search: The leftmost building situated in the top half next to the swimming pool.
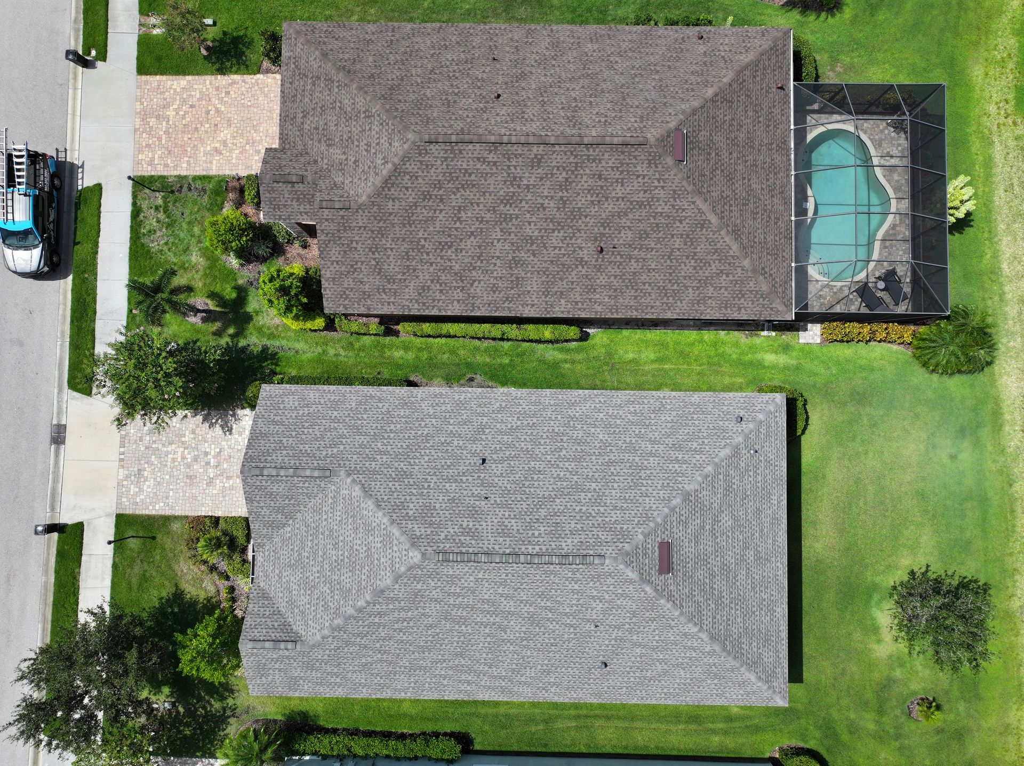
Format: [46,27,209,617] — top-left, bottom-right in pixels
[258,19,796,323]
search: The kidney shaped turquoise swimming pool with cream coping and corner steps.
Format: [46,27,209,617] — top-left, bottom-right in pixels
[796,122,898,286]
